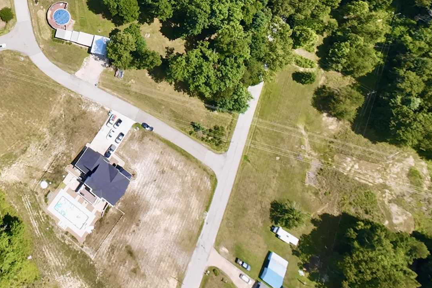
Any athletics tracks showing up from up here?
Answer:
No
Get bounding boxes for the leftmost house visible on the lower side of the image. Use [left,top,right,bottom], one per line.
[76,148,133,205]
